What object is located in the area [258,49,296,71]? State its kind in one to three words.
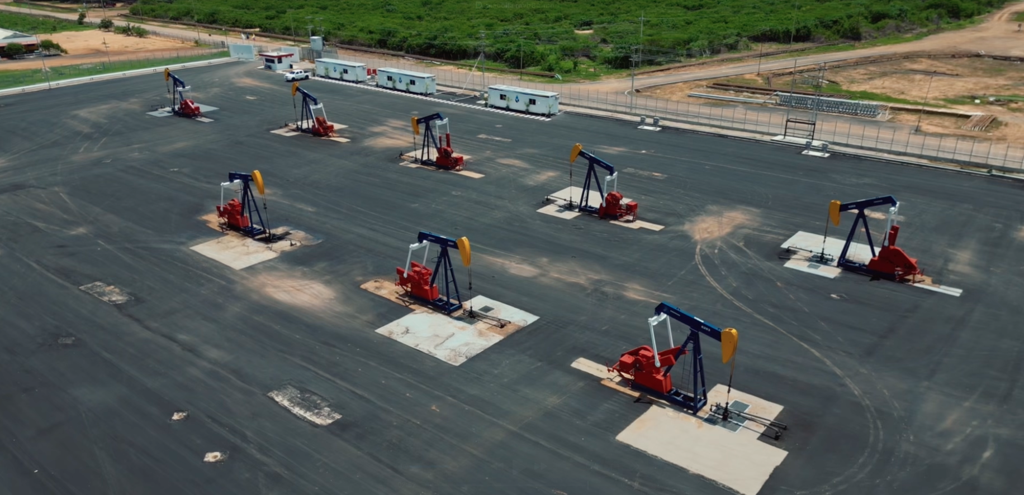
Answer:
building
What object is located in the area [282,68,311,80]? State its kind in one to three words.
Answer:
vehicle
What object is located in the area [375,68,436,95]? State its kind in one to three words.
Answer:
building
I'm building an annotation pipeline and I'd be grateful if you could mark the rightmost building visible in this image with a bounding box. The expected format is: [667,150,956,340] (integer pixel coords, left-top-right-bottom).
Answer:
[486,85,559,115]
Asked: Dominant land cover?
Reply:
paved ground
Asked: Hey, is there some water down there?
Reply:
No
